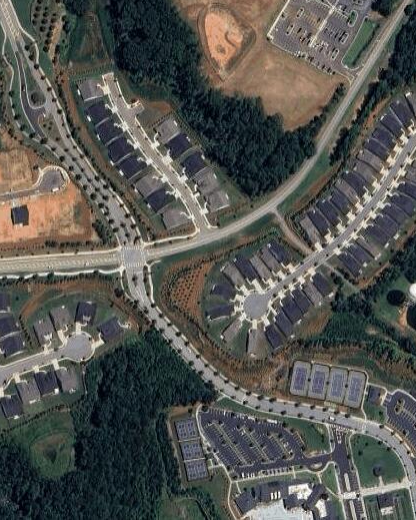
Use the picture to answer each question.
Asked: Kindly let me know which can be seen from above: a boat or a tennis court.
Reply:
tennis court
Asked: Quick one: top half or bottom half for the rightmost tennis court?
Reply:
bottom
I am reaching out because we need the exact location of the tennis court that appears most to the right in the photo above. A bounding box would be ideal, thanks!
[346,370,366,407]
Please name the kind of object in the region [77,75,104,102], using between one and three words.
house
